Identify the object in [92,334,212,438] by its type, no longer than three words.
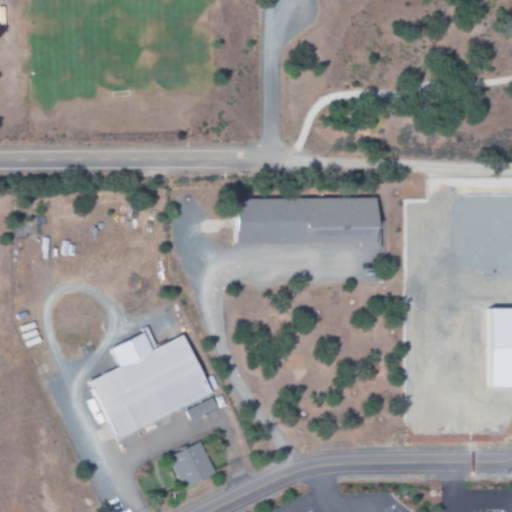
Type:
building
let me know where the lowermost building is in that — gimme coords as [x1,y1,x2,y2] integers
[174,441,216,488]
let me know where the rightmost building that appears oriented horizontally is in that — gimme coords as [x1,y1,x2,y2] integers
[237,197,382,244]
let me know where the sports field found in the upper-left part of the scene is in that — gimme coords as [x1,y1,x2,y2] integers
[26,0,214,114]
